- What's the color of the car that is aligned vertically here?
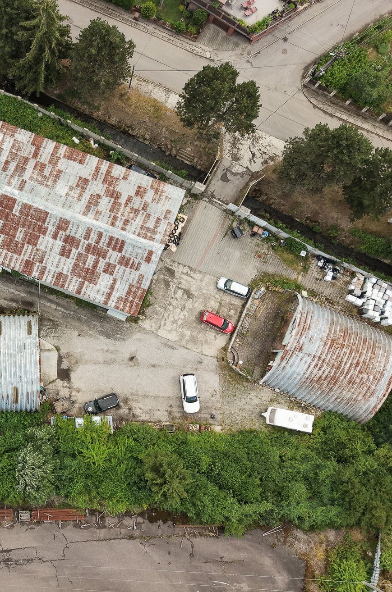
white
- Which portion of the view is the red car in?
center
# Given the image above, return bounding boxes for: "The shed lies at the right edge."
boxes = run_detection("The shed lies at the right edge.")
[263,295,392,421]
